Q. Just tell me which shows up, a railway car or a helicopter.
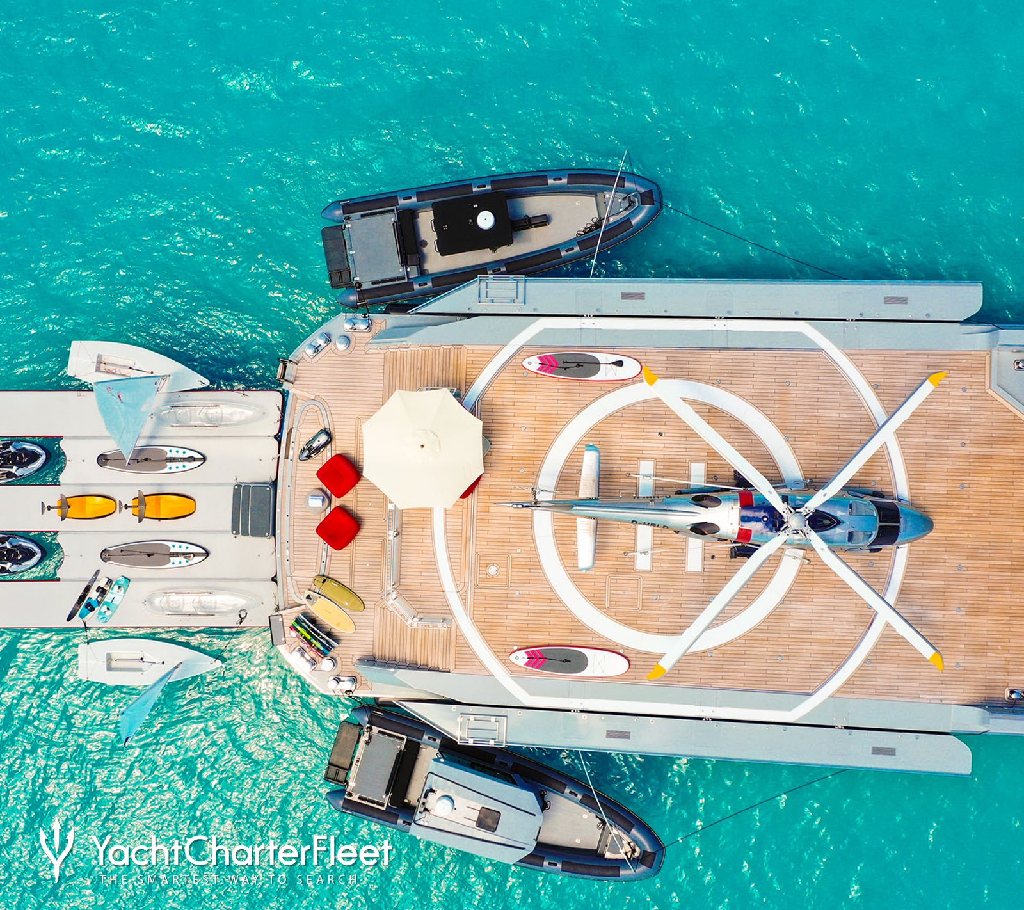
helicopter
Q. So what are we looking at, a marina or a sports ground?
marina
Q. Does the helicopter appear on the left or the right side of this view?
right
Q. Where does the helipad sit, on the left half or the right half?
right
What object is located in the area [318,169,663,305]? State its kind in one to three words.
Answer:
boat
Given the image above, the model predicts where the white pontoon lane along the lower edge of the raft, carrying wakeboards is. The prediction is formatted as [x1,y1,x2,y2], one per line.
[0,579,281,628]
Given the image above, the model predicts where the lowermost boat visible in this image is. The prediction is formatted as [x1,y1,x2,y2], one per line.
[325,707,665,876]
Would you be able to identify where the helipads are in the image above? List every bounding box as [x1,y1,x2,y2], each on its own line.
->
[403,318,1024,721]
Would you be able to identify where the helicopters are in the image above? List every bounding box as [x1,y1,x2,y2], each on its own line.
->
[508,359,952,677]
